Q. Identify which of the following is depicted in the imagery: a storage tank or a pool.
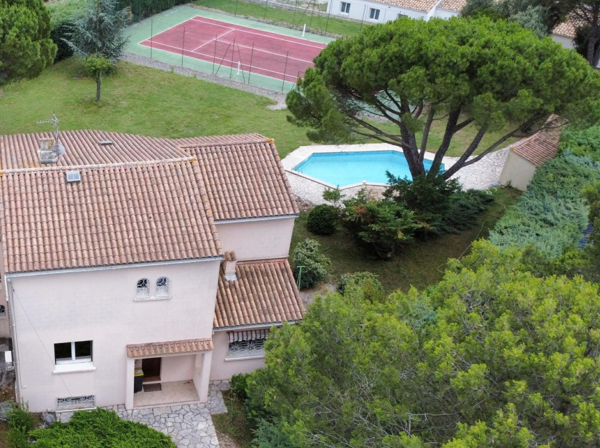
pool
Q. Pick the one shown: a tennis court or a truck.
tennis court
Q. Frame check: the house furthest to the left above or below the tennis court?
below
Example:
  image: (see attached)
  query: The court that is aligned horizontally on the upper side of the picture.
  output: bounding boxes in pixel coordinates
[111,3,487,131]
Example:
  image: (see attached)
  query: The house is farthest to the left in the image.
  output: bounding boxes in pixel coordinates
[0,129,306,412]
